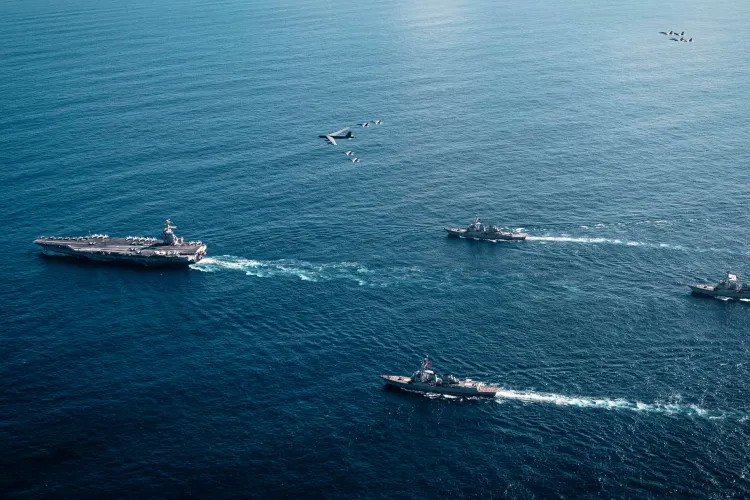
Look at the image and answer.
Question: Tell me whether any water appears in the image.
Yes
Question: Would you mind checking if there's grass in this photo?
No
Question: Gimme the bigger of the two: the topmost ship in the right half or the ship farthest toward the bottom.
the ship farthest toward the bottom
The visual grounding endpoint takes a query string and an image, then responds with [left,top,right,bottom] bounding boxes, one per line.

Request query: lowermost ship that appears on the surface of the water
[381,357,499,398]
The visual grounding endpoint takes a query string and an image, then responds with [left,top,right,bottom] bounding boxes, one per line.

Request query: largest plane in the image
[319,127,354,145]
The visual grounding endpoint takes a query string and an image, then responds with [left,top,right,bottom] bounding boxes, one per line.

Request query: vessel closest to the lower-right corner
[689,270,750,299]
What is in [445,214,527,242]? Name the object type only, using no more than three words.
ship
